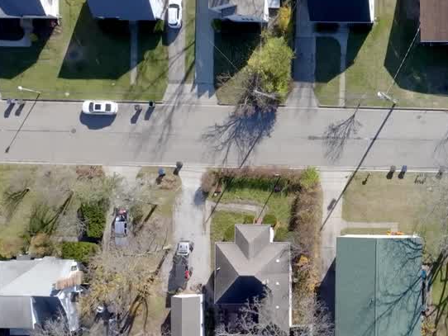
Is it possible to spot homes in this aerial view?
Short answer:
Yes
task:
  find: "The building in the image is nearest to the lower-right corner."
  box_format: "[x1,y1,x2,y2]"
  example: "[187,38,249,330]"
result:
[335,237,423,336]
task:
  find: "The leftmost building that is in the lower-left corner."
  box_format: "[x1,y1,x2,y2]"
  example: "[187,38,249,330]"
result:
[0,254,85,336]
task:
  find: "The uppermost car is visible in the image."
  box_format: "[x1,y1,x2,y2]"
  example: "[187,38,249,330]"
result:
[167,0,185,31]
